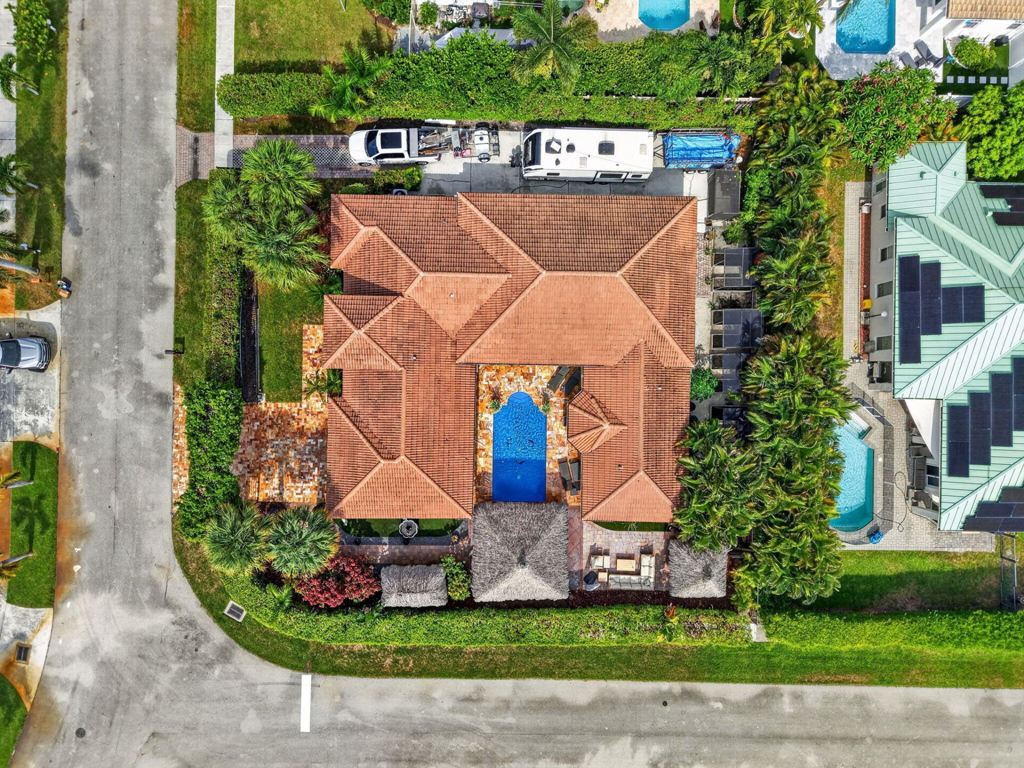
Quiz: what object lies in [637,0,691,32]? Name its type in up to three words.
swimming pool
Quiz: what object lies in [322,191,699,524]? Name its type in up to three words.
house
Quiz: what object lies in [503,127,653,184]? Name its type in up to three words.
trailer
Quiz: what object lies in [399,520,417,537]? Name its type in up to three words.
fountain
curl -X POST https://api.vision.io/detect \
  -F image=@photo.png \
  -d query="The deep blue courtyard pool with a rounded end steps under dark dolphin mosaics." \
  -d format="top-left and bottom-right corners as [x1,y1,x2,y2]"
[492,391,546,503]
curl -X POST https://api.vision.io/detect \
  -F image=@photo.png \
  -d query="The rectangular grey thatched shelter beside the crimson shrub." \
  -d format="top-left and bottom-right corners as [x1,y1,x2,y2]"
[378,560,451,611]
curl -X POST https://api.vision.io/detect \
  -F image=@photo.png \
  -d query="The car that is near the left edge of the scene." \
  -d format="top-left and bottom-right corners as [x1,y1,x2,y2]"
[0,332,51,372]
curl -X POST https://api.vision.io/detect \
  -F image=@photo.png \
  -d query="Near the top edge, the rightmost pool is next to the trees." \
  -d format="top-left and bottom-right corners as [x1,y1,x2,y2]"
[835,0,897,55]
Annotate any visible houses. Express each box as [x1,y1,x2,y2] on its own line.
[921,0,1024,43]
[872,143,1024,533]
[322,191,699,524]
